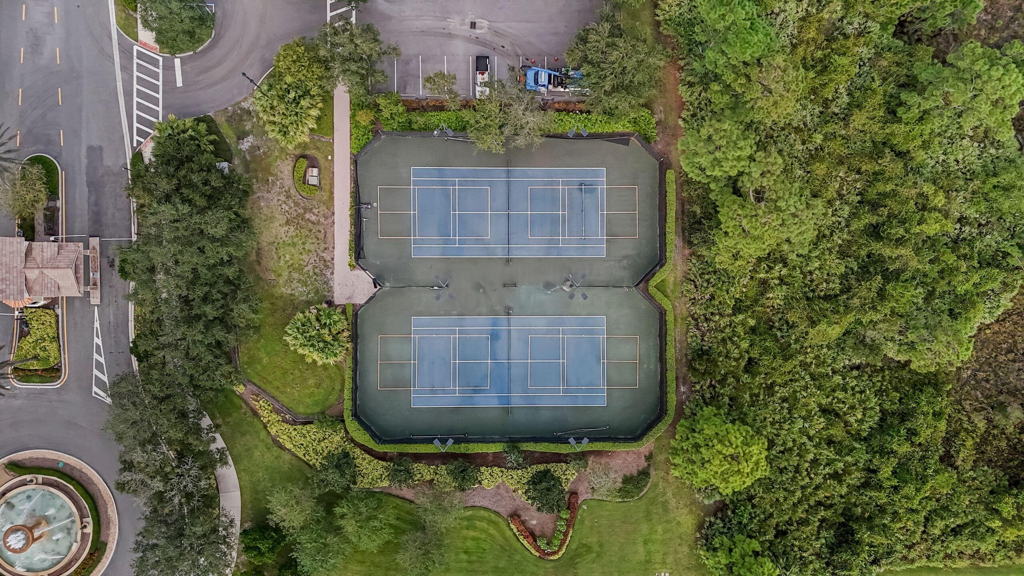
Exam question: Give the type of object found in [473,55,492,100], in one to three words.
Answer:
vehicle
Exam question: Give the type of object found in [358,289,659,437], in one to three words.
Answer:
tennis court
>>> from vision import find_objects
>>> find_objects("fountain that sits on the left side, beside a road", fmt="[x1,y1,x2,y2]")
[0,476,90,576]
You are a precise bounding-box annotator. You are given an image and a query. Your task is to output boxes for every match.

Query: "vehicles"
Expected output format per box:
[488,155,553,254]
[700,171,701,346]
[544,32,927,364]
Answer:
[473,55,492,100]
[517,65,600,94]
